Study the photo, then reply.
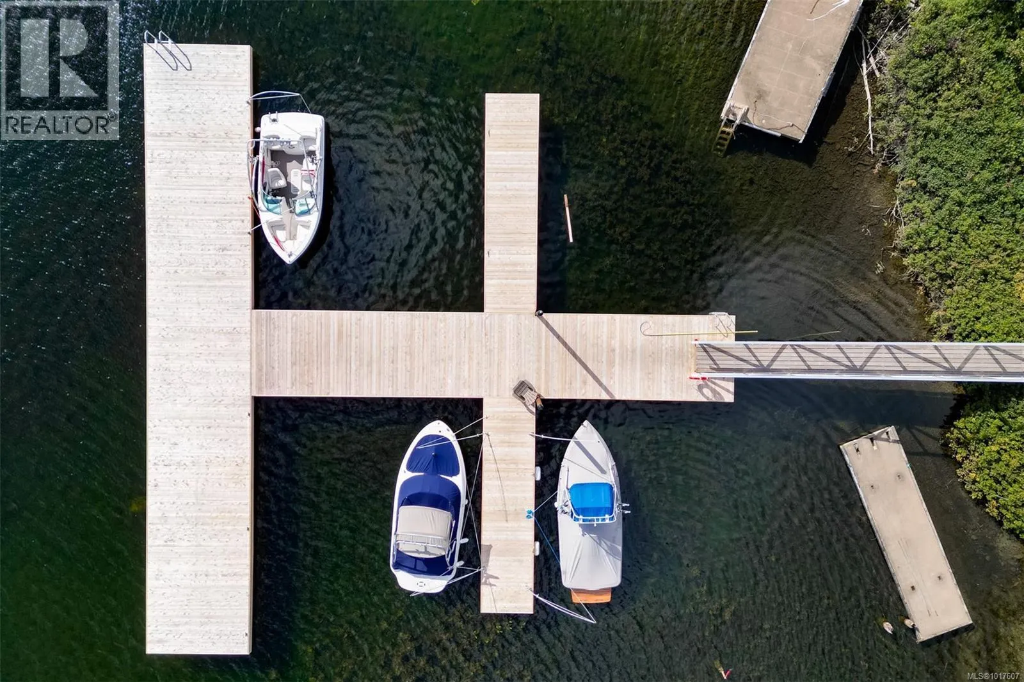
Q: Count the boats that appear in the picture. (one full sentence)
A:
The count of boats comes to 3.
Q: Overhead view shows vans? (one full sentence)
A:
No, the photo shows no van.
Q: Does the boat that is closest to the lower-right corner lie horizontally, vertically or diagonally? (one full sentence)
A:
In this picture, the boat that is closest to the lower-right corner lies vertically.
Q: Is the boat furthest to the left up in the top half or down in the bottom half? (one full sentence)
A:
It is in the top half that the boat furthest to the left appears.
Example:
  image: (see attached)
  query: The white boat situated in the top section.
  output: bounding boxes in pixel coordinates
[247,111,327,264]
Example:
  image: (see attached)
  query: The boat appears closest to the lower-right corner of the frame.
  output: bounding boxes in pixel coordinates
[556,418,630,604]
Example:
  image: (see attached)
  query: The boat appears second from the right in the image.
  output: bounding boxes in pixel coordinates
[390,419,467,593]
